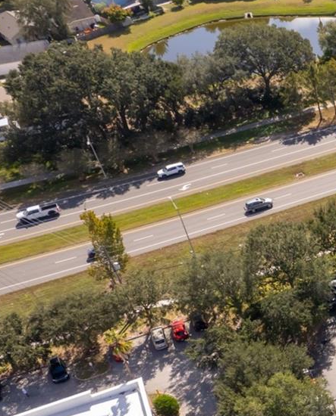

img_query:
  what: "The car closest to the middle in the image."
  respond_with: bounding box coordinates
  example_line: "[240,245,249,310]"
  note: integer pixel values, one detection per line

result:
[159,163,186,177]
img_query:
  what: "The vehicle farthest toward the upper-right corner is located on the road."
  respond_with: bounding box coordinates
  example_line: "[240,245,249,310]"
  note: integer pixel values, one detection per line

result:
[245,197,273,212]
